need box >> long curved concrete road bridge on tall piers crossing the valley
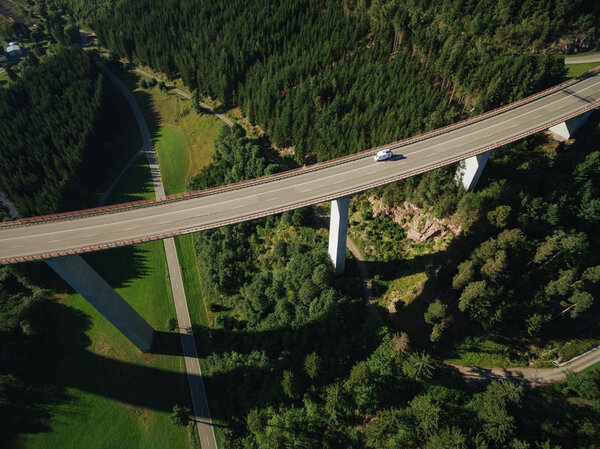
[0,65,600,352]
